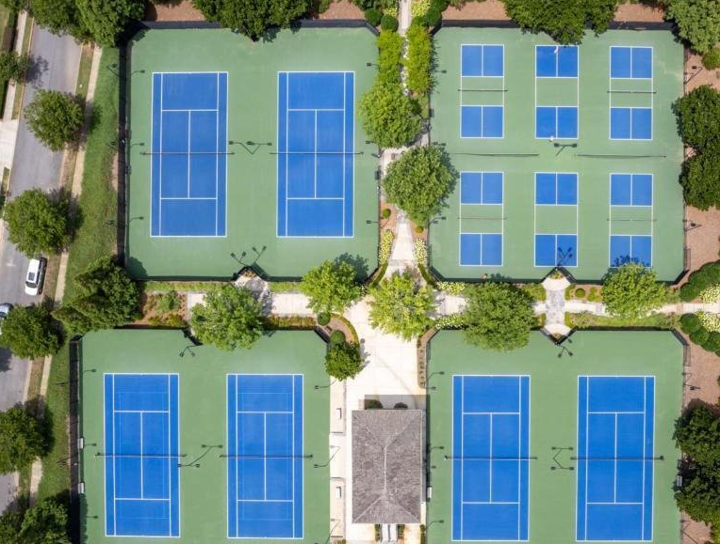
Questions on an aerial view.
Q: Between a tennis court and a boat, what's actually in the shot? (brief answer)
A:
tennis court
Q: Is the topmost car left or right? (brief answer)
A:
left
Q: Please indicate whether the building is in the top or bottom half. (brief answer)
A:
bottom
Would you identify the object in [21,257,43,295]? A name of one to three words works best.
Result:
car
